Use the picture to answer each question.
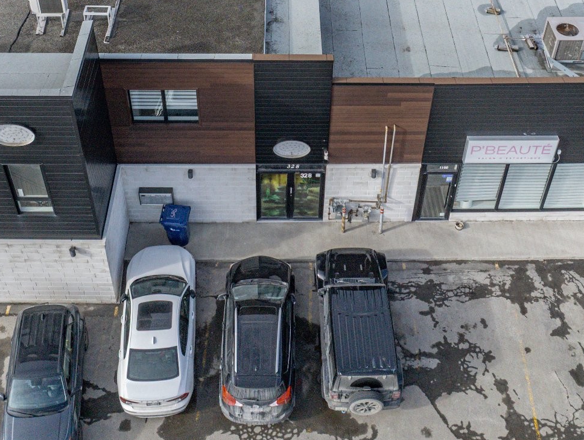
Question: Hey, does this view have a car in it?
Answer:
Yes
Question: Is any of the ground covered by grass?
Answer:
No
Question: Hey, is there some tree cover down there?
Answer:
No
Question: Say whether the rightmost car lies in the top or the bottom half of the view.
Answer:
bottom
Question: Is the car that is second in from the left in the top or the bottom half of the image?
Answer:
bottom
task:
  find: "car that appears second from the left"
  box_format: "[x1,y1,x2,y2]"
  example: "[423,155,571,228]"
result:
[111,247,197,421]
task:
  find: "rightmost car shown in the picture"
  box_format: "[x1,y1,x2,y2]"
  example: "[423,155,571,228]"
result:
[314,250,405,417]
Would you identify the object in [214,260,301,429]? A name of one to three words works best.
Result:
car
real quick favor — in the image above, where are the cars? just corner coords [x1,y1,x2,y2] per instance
[111,247,197,421]
[0,300,94,440]
[314,250,405,417]
[214,260,301,429]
